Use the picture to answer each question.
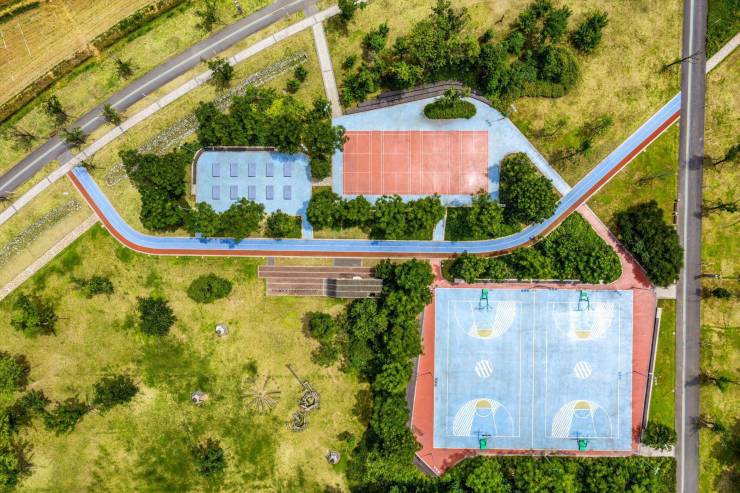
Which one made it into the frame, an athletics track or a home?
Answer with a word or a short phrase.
athletics track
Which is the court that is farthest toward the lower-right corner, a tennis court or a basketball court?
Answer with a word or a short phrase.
basketball court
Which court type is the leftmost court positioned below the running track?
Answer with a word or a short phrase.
basketball court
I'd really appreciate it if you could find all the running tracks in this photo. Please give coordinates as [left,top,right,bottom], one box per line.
[66,93,682,259]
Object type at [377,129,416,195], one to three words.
sports court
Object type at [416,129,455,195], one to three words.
sports court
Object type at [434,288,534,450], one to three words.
basketball court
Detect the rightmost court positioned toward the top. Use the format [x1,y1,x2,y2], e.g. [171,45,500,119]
[455,131,489,195]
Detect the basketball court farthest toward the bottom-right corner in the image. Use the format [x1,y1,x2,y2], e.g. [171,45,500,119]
[533,289,632,450]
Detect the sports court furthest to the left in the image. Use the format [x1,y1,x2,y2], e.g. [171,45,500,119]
[343,130,377,195]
